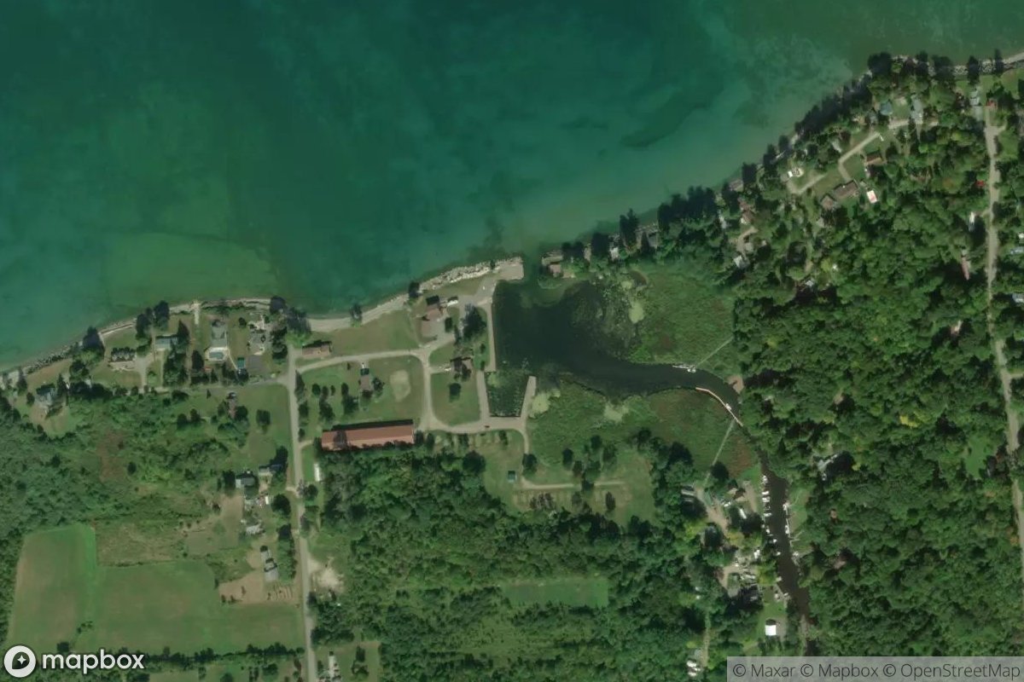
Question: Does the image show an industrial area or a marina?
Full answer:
The area seen from above is a marina.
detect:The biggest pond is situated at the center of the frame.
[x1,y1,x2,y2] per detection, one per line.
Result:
[484,265,746,422]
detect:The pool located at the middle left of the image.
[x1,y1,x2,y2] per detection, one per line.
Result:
[206,347,228,360]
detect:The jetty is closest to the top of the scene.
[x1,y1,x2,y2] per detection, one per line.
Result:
[495,260,524,283]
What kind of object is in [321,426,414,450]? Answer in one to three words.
barn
